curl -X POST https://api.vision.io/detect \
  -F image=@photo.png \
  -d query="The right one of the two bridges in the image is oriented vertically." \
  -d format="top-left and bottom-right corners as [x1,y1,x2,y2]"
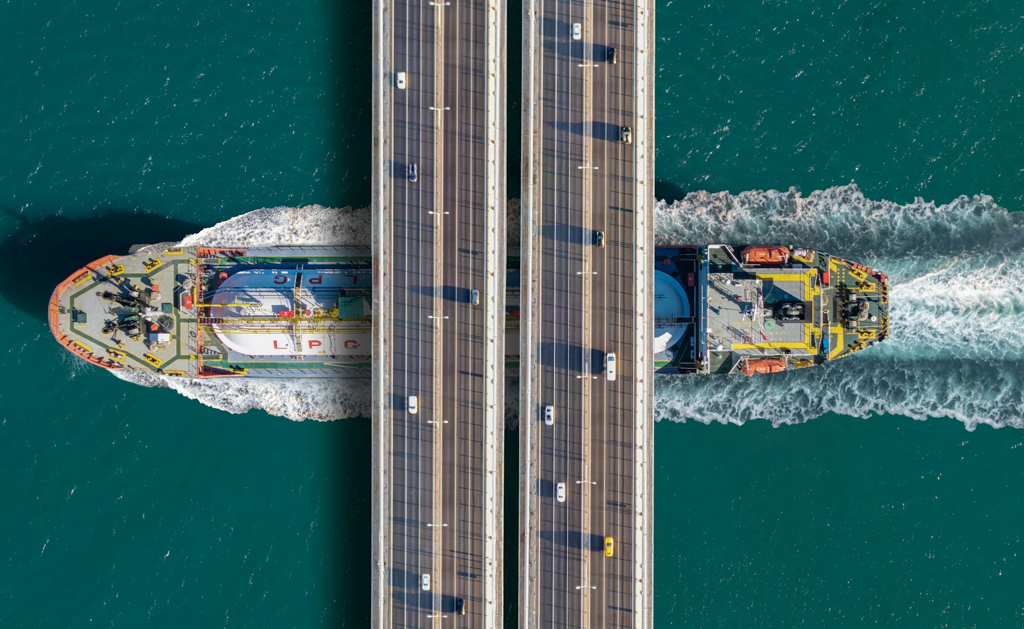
[519,0,656,629]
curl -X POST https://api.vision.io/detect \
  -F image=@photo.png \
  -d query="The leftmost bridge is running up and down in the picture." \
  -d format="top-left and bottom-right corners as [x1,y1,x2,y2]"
[371,0,507,629]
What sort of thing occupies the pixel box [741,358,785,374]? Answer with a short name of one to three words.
boat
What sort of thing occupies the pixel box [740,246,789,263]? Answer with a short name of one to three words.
boat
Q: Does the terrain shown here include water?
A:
Yes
